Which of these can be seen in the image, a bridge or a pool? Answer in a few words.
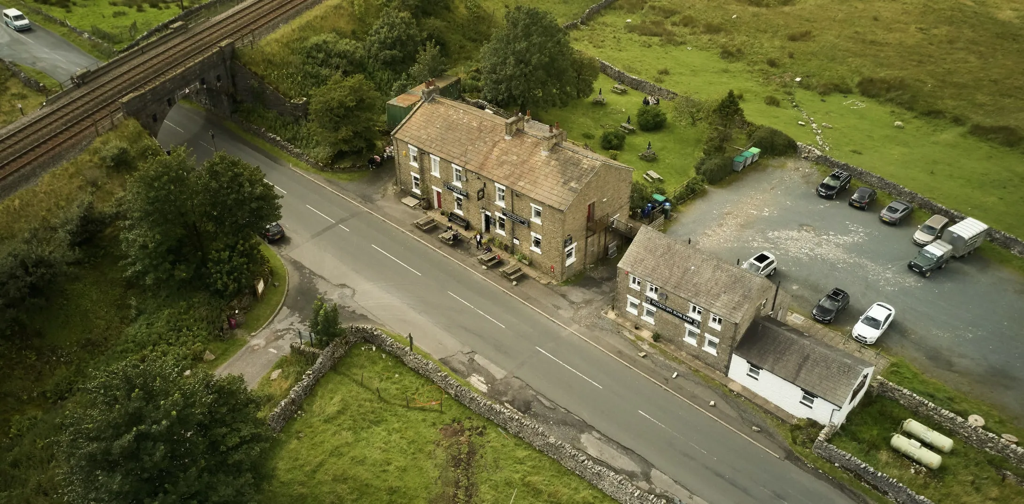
bridge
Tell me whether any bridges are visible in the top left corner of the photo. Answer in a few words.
Yes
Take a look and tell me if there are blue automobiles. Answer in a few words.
No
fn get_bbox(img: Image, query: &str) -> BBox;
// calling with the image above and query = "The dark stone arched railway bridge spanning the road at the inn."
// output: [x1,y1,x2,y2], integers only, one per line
[47,10,313,175]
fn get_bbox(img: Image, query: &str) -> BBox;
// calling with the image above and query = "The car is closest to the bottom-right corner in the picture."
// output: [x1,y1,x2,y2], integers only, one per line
[855,302,897,344]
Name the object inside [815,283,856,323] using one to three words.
car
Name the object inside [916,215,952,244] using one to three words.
car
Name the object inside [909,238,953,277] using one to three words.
vehicle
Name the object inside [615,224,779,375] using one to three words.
barn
